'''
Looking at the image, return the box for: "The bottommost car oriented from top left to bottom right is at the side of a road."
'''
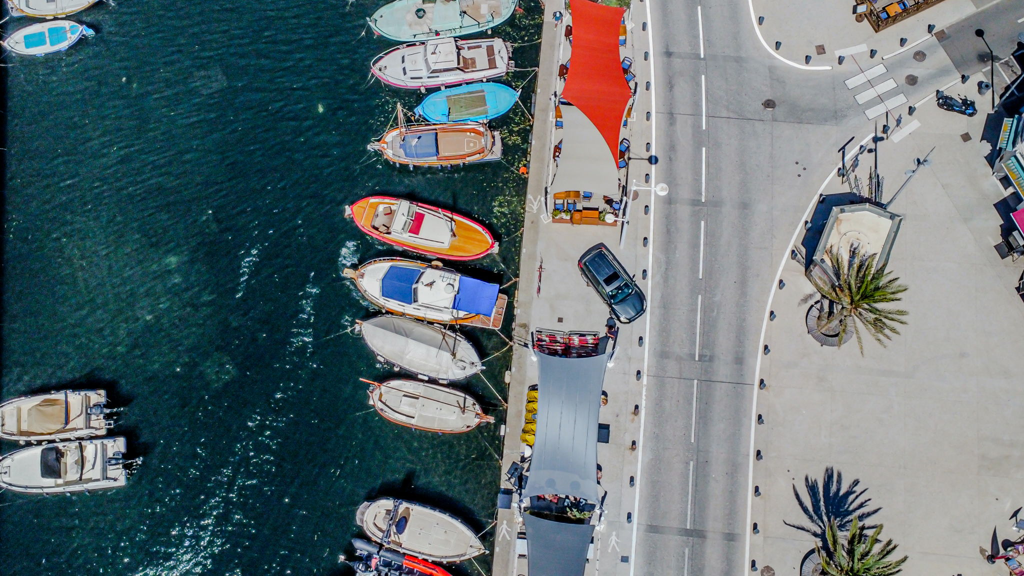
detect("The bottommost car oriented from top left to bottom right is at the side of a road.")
[576,243,647,325]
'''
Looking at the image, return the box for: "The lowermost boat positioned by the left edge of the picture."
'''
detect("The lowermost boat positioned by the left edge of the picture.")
[0,434,145,497]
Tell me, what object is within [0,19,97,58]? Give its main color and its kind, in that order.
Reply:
white boat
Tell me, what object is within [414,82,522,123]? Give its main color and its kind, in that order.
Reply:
blue boat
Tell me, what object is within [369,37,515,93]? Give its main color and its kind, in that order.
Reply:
white boat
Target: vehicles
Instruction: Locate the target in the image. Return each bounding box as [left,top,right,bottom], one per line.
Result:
[935,88,976,114]
[576,243,647,325]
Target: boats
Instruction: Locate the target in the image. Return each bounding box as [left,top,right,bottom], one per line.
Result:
[345,196,499,262]
[349,314,486,383]
[368,104,502,171]
[0,388,121,445]
[340,538,456,576]
[414,82,522,123]
[343,257,508,329]
[367,0,523,46]
[356,497,489,565]
[369,37,515,93]
[0,19,97,58]
[0,434,145,497]
[9,0,110,21]
[359,378,495,436]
